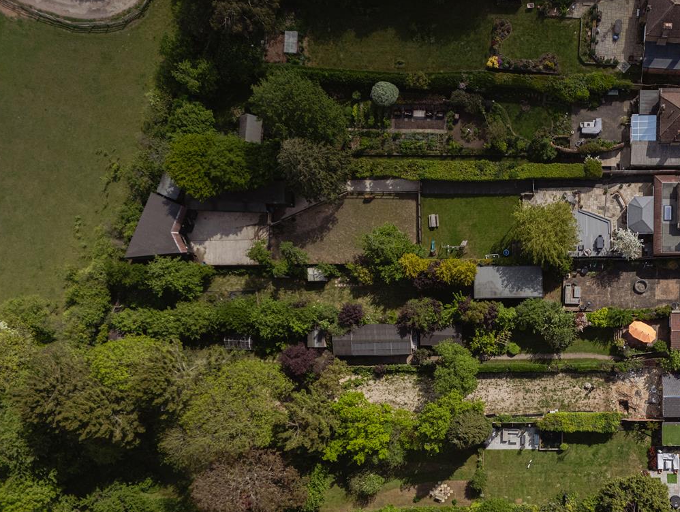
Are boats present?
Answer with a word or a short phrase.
No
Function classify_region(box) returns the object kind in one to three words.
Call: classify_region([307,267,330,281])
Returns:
greenhouse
